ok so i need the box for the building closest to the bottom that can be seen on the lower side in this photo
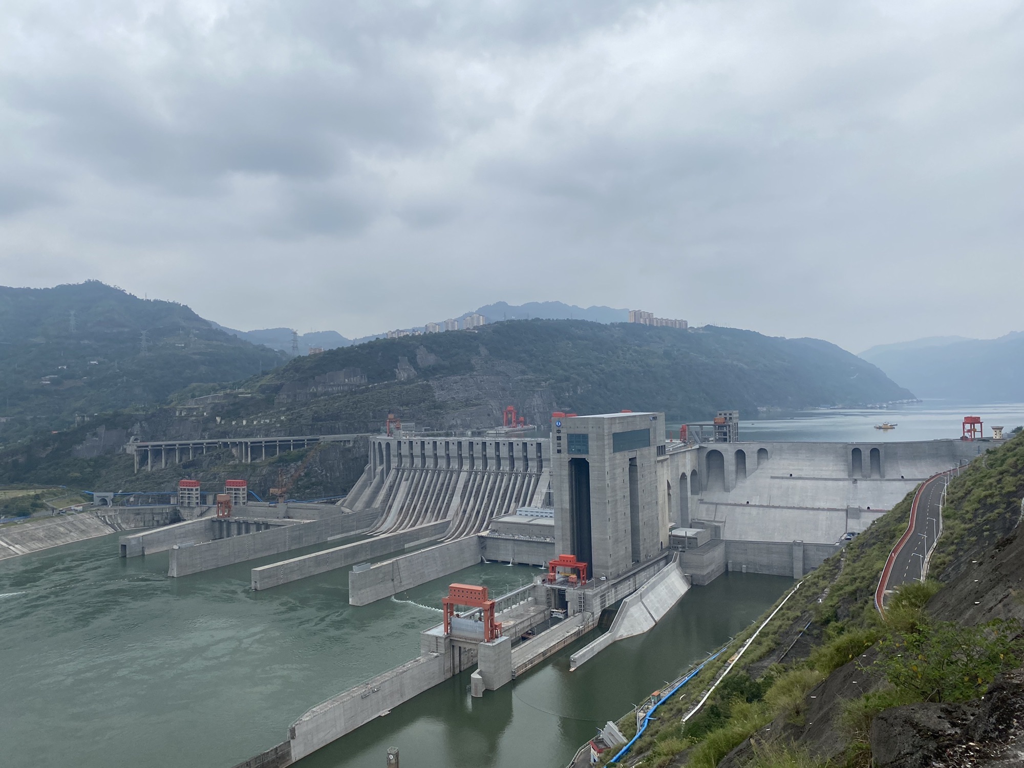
[580,739,609,768]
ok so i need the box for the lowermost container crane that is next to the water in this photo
[441,582,499,642]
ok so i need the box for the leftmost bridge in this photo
[123,433,370,470]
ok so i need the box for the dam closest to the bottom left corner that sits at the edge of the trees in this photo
[340,435,550,543]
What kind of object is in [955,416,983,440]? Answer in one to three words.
container crane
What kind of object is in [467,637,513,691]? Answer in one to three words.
pier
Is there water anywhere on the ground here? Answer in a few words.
Yes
